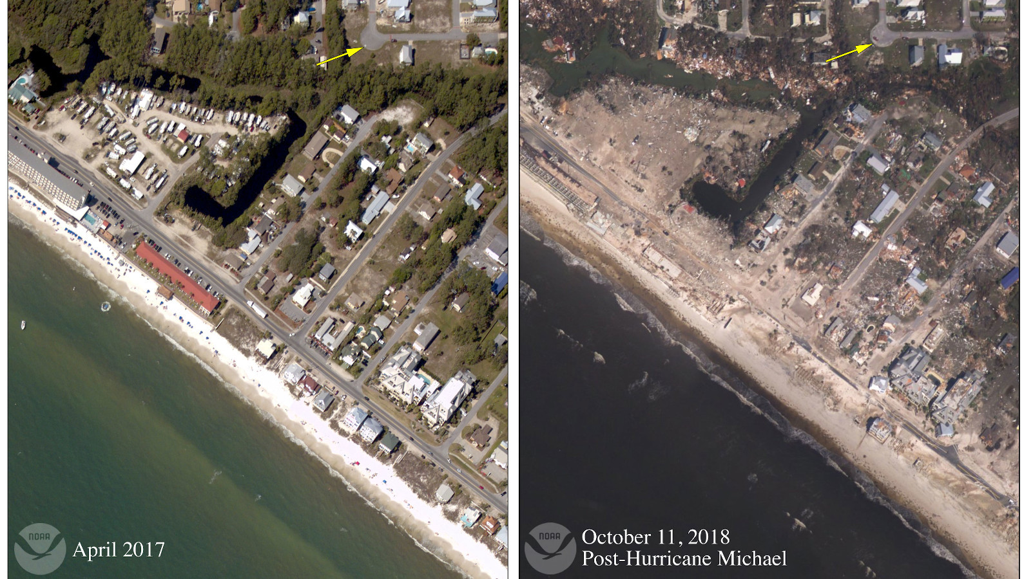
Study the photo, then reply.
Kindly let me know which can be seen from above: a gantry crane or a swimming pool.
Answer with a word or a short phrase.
swimming pool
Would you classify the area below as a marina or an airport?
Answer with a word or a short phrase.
marina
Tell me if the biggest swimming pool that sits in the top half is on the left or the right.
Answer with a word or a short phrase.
left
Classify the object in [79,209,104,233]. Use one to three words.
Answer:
swimming pool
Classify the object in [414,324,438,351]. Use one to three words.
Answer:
house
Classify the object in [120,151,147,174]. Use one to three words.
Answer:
building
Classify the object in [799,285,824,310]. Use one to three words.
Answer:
building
